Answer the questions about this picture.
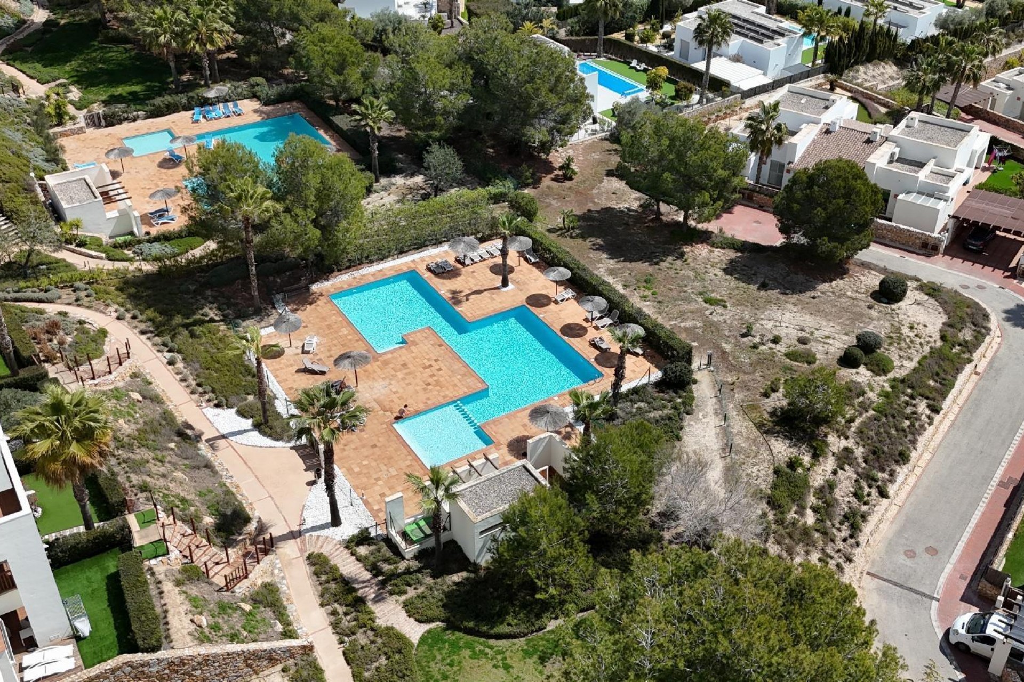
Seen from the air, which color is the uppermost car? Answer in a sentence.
The uppermost car looks black in the image.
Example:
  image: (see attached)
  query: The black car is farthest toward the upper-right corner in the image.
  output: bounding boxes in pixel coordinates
[967,225,1001,251]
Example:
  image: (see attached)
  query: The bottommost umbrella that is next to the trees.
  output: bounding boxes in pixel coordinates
[527,402,571,434]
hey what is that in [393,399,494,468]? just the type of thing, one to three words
swimming pool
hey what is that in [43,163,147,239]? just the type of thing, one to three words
building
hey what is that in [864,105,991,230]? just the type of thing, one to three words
house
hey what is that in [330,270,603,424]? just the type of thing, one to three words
swimming pool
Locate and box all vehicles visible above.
[967,225,1001,251]
[954,615,1024,679]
